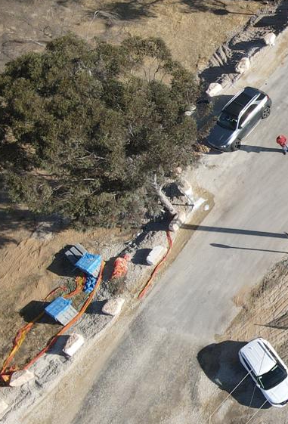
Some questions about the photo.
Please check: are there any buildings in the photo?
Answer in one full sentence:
No, there isn't any building down there.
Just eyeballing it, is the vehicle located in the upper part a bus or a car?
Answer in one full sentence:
The vehicle located in the upper part is a car.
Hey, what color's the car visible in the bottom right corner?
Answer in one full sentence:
The car visible in the bottom right corner looks white in the image.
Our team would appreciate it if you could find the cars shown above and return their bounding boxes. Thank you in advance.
[236,335,288,409]
[201,85,269,154]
